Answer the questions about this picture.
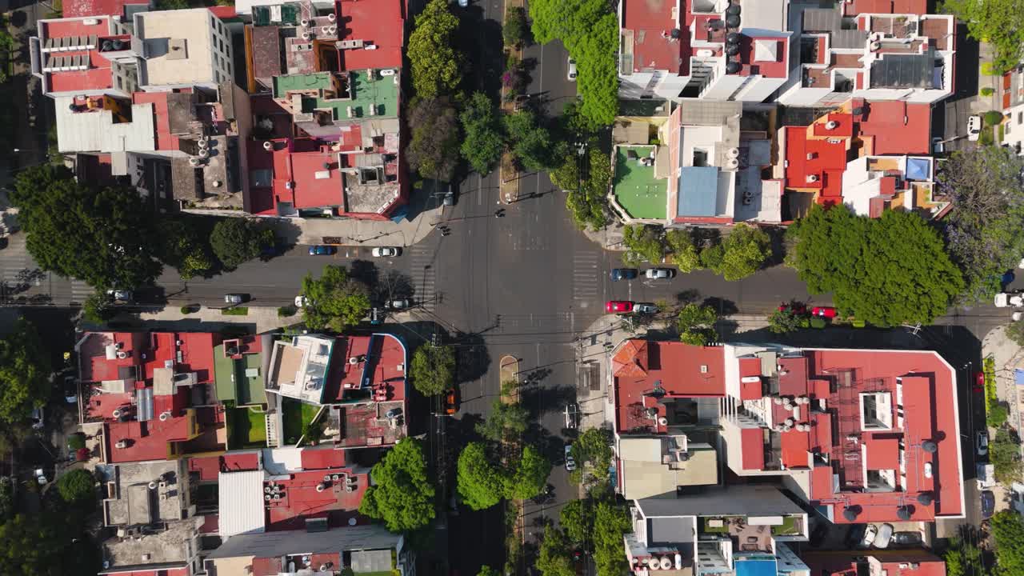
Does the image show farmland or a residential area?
residential area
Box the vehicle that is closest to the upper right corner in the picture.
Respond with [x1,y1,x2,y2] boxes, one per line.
[965,113,981,142]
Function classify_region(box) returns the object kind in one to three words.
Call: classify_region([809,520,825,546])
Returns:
car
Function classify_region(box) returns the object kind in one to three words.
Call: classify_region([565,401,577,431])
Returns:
vehicle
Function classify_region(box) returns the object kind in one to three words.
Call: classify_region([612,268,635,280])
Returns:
vehicle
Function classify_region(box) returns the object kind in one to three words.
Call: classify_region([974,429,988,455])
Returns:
car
